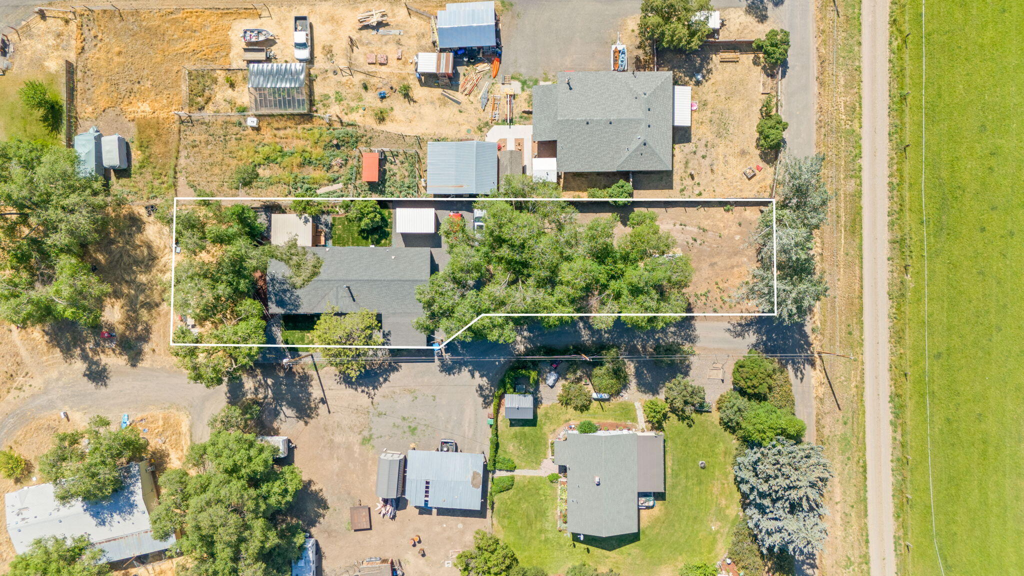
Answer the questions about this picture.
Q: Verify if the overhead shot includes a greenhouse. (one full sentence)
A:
Yes, the image includes a greenhouse.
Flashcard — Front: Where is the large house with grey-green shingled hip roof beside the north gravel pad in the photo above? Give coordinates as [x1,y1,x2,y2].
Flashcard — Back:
[533,69,691,183]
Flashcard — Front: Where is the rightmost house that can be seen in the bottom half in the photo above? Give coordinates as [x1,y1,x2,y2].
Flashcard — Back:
[554,431,664,541]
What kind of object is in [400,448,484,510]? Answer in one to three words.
building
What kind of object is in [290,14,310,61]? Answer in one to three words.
vehicle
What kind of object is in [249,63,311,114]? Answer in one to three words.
greenhouse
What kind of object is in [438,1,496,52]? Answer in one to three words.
barn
